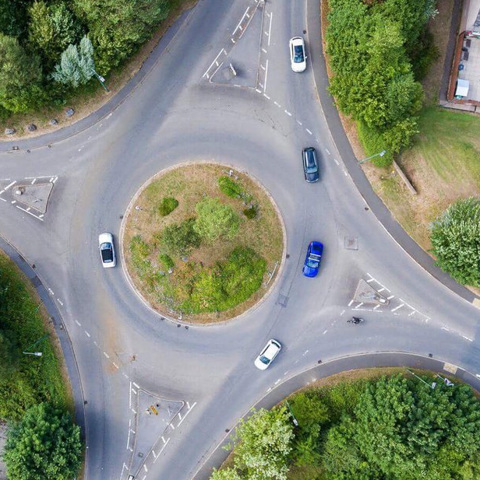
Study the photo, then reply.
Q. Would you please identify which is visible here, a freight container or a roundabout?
roundabout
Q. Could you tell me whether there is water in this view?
No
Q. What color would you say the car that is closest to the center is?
blue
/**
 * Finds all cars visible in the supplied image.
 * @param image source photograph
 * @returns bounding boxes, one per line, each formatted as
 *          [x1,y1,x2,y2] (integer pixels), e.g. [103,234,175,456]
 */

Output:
[97,232,116,268]
[289,36,307,73]
[301,146,320,184]
[254,337,282,371]
[301,242,323,278]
